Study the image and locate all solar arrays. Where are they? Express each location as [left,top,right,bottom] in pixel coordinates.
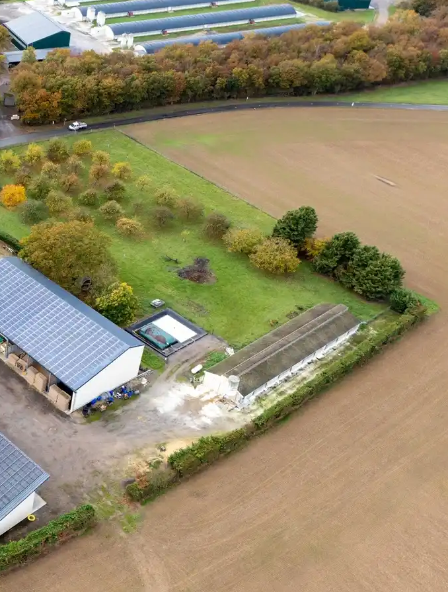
[0,433,45,509]
[0,258,124,388]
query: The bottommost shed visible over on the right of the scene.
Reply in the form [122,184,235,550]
[199,303,363,409]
